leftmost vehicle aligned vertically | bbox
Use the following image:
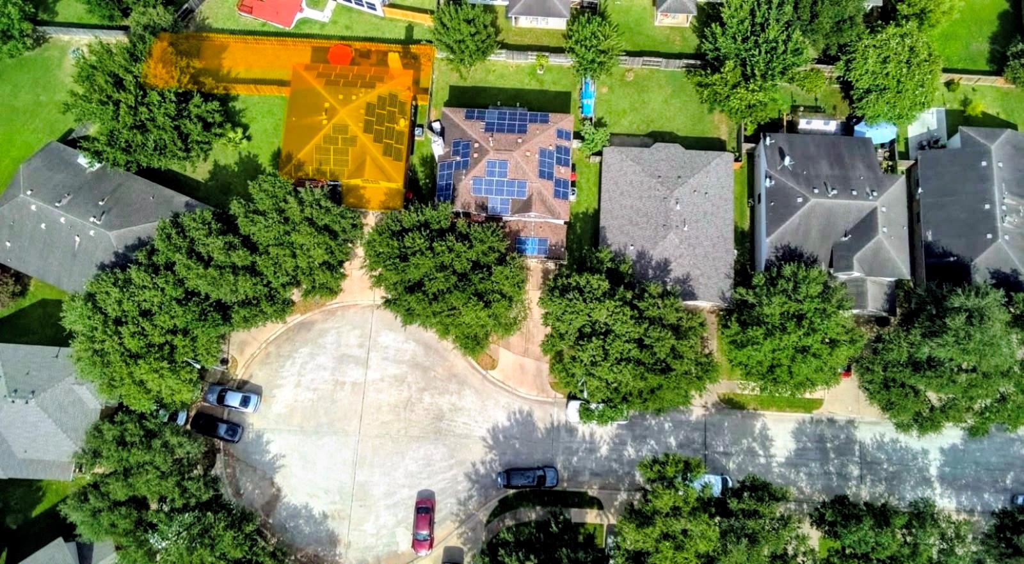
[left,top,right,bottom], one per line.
[409,495,436,557]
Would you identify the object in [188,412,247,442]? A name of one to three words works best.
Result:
car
